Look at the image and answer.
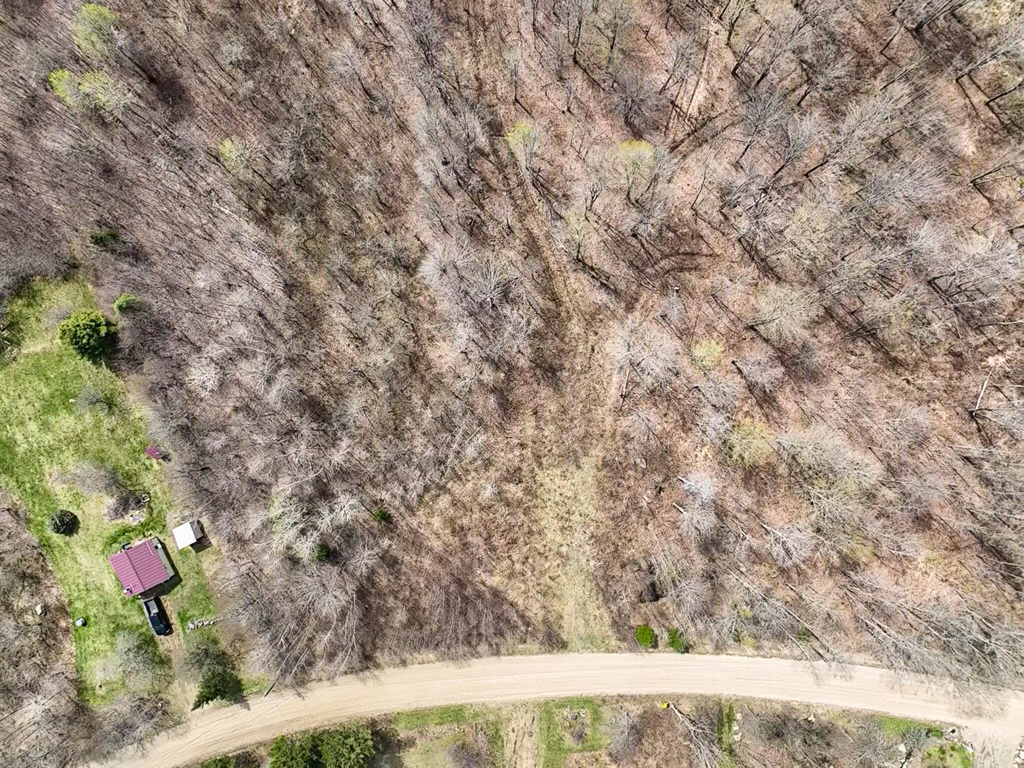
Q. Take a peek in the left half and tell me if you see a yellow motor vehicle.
No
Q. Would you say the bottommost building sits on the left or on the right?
left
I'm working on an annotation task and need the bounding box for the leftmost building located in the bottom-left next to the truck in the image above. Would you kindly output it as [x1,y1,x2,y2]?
[111,539,174,595]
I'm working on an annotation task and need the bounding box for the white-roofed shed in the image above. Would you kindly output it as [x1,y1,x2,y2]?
[171,520,204,549]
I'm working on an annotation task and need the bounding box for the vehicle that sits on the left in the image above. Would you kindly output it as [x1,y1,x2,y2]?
[141,594,171,637]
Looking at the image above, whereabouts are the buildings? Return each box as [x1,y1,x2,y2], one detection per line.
[171,520,204,549]
[146,445,168,461]
[111,539,174,595]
